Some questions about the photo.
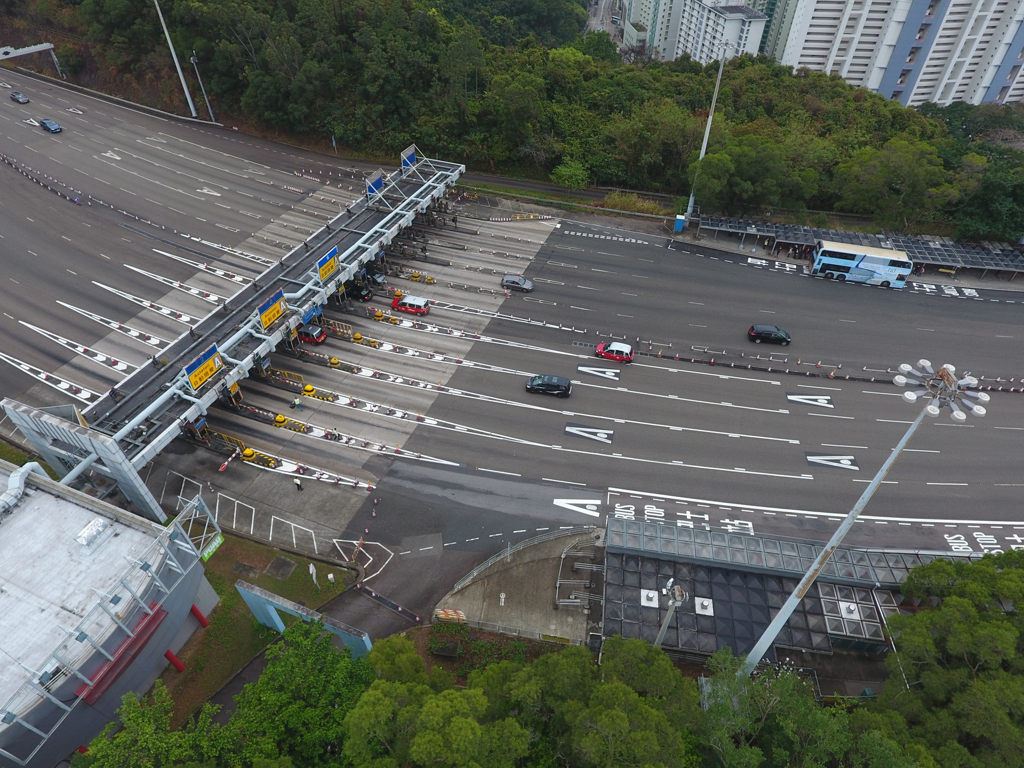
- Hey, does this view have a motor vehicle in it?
Yes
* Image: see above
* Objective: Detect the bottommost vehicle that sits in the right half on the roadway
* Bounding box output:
[597,341,636,364]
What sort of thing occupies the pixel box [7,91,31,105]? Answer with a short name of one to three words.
car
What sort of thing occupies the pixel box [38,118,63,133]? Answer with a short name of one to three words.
car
